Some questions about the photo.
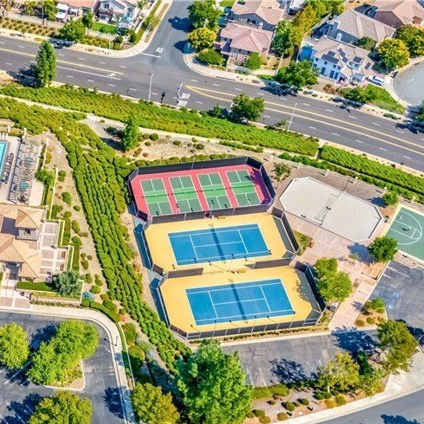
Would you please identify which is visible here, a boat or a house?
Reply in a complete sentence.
I can see a house in this picture.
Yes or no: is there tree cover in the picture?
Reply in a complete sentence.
Yes, tree cover shows up in the scene.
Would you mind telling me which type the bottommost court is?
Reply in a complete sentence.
It turns out the bottommost court is a tennis court.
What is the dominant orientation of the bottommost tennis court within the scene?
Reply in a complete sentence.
The bottommost tennis court is oriented horizontally.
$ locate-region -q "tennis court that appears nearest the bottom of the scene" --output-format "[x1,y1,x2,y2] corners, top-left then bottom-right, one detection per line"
[163,265,323,332]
